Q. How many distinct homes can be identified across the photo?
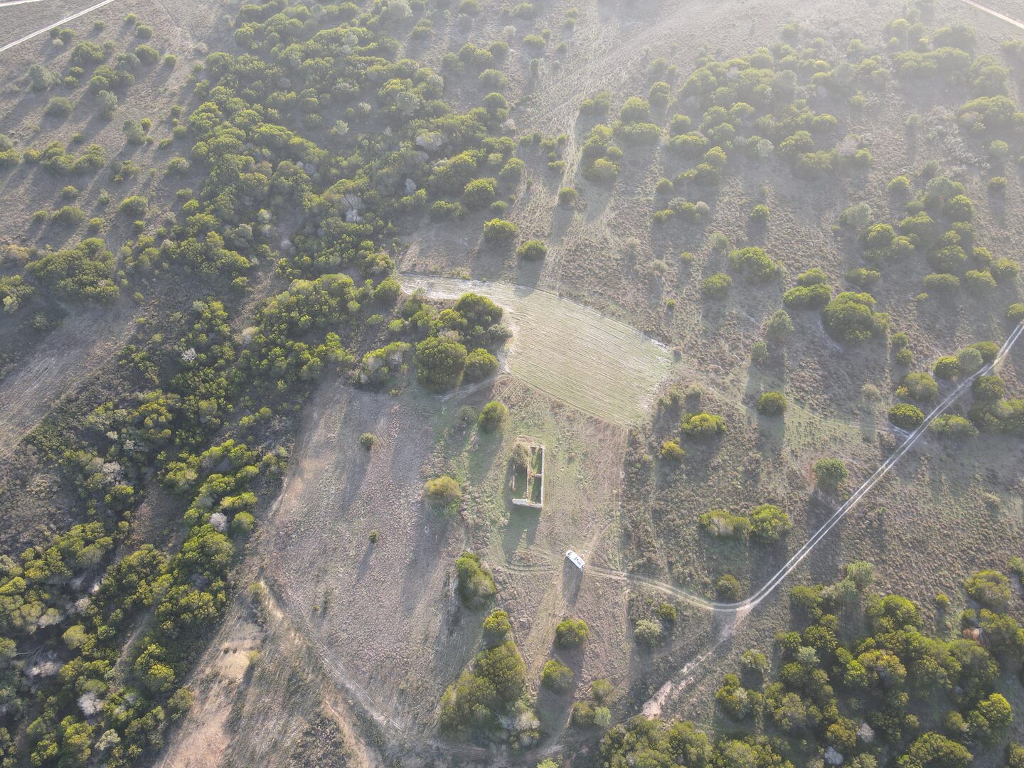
1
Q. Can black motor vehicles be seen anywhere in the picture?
No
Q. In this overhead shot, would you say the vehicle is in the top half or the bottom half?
bottom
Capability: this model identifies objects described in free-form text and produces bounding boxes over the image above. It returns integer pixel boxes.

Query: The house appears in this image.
[509,440,544,506]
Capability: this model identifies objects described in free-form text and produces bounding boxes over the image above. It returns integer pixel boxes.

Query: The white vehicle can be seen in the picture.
[563,552,590,577]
